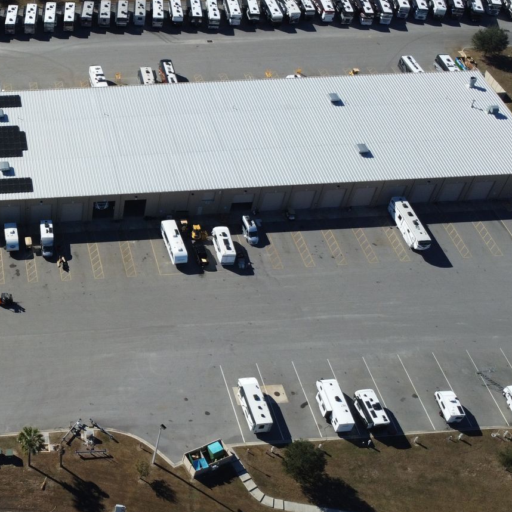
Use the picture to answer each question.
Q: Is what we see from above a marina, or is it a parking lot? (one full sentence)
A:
The picture captures a parking lot.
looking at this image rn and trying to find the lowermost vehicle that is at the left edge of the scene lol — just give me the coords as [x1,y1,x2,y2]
[0,291,19,305]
